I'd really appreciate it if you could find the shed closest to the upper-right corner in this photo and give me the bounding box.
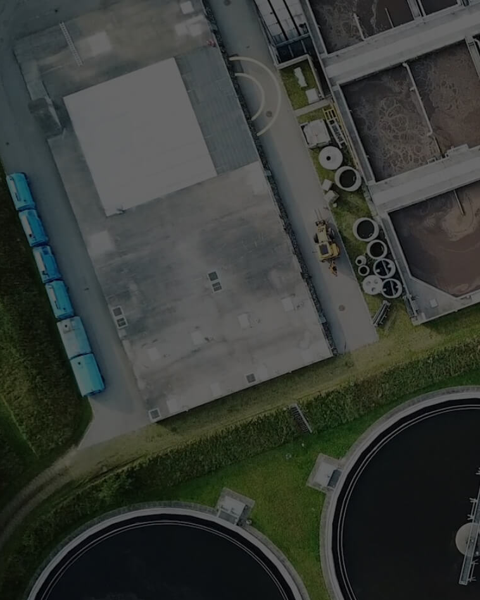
[298,116,335,152]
